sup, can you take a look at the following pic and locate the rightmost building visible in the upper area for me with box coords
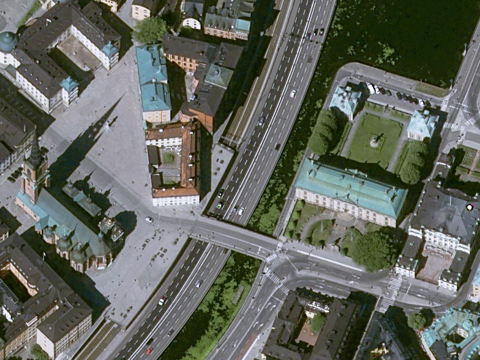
[405,102,440,145]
